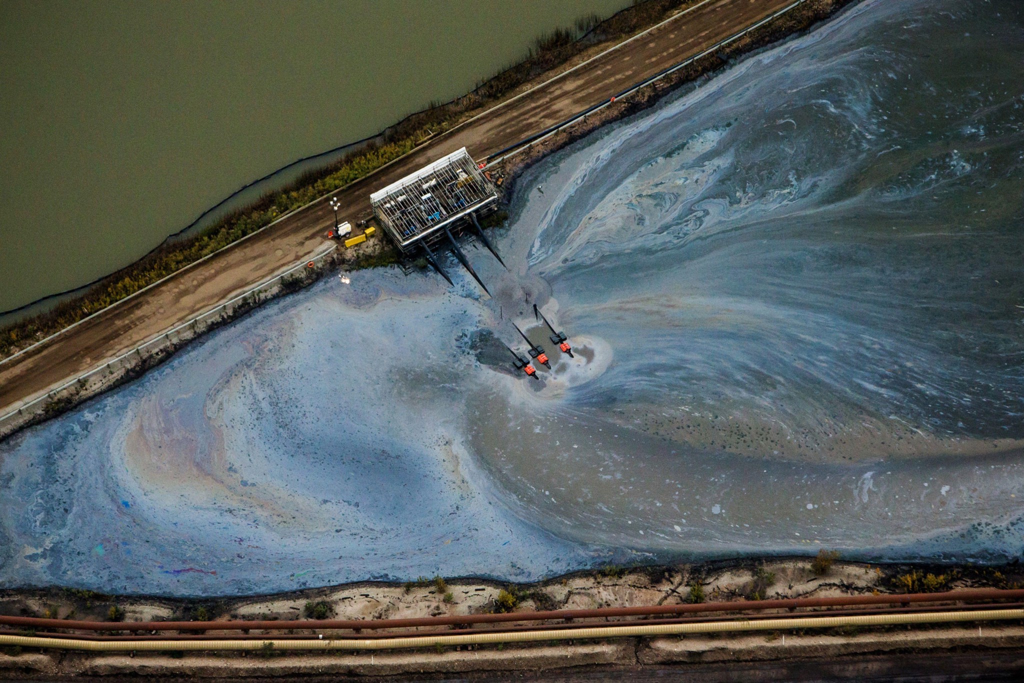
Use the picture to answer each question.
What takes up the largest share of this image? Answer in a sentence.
The scene is dominated by water.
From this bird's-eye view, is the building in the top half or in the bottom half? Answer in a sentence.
You can find the building in the top half.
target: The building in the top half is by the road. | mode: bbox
[370,150,506,265]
